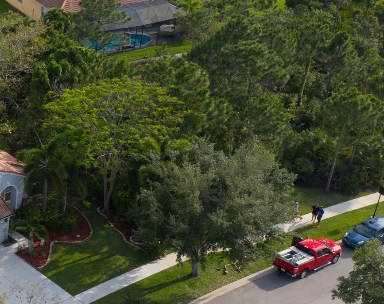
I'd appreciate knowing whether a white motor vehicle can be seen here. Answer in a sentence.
No, the scene contains no white motor vehicle.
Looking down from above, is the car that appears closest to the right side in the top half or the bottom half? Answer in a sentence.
You can find the car that appears closest to the right side in the bottom half.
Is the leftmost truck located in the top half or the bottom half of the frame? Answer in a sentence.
The leftmost truck sits in the bottom half of the picture.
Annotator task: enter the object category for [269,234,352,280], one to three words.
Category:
truck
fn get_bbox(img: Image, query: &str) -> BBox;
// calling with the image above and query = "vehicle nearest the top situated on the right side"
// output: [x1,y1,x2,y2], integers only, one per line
[337,210,384,250]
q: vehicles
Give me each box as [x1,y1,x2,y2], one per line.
[269,234,352,280]
[337,210,384,250]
